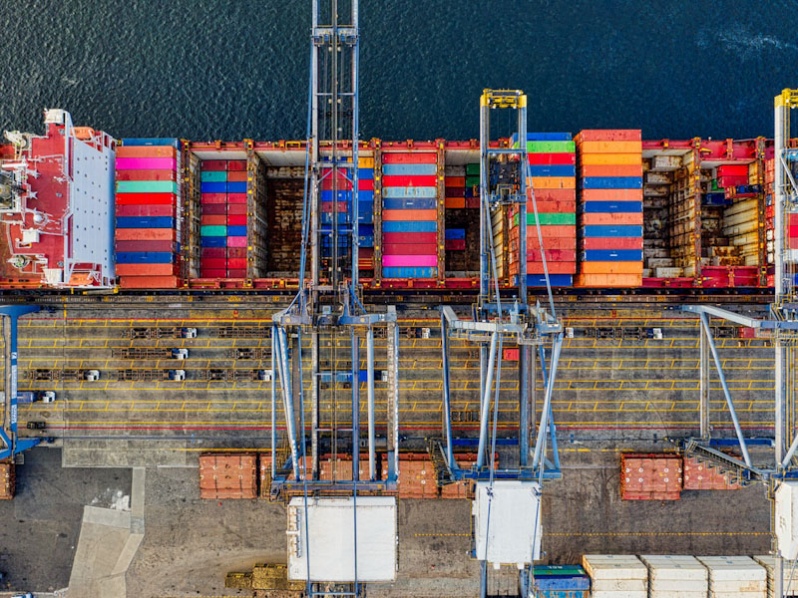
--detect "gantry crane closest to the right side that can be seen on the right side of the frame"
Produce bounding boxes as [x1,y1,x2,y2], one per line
[652,87,798,598]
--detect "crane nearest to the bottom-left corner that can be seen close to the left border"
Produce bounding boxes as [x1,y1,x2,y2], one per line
[0,306,75,464]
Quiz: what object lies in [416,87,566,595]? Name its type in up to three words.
container crane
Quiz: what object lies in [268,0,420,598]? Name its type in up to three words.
container crane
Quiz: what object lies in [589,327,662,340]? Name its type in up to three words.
vehicle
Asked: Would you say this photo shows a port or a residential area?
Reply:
port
